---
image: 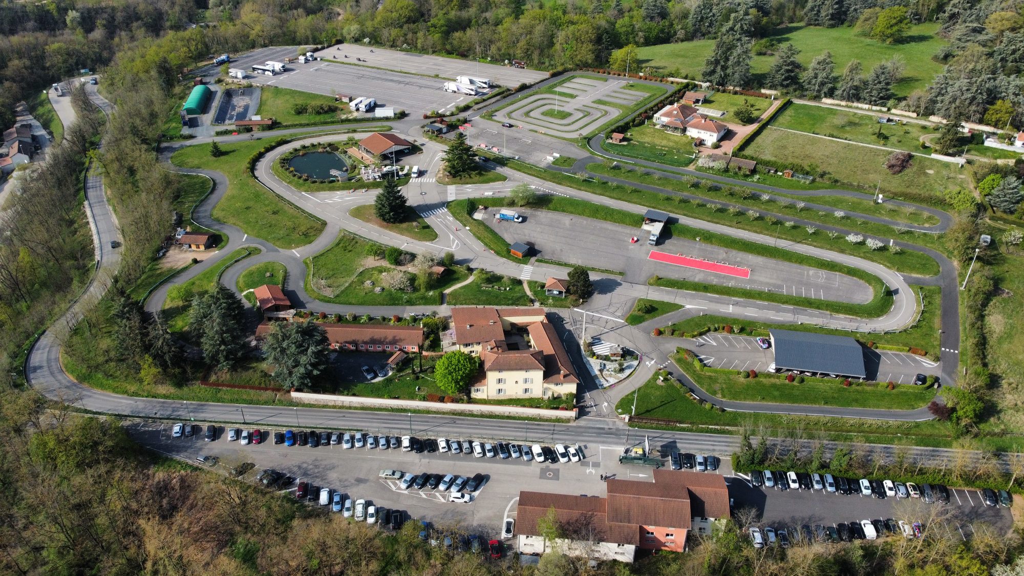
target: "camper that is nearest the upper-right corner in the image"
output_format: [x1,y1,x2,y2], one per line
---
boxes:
[979,231,991,247]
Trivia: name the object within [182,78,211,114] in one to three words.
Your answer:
shed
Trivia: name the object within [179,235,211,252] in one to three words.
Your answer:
building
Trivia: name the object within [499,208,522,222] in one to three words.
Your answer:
vehicle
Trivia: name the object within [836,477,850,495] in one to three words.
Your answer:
car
